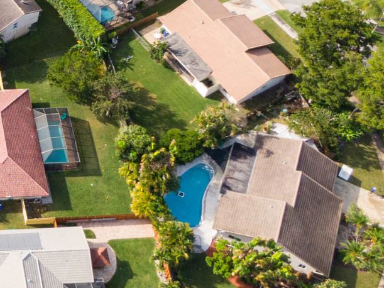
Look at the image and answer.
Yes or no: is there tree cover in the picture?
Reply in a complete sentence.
Yes, tree cover shows up in the scene.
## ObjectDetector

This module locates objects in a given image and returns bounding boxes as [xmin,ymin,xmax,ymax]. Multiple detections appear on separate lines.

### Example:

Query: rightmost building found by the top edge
[159,0,290,107]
